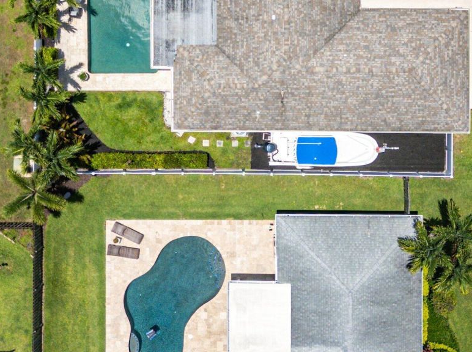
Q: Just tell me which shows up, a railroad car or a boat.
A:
boat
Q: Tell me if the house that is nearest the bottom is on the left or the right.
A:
right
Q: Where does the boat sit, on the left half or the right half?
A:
right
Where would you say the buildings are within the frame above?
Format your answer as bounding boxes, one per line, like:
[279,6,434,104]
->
[227,213,424,352]
[149,0,471,133]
